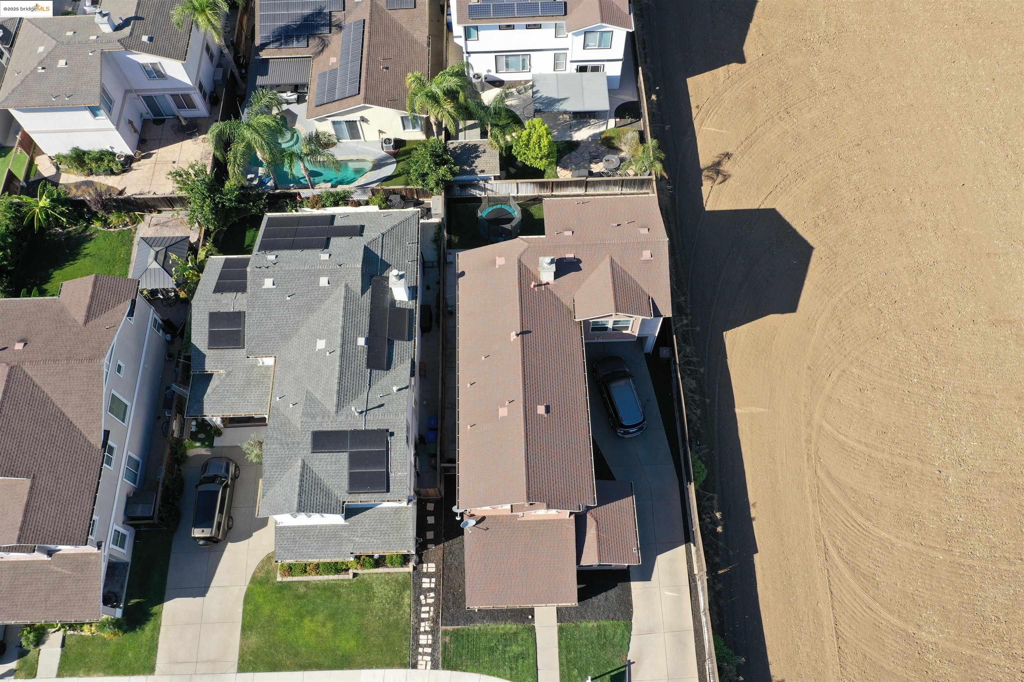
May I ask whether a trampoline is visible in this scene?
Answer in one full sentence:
Yes, you can see a trampoline in this photo.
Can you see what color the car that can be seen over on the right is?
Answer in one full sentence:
The car that can be seen over on the right is black.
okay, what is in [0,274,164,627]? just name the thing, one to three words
house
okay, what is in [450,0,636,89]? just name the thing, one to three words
house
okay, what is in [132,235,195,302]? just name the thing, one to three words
gazebo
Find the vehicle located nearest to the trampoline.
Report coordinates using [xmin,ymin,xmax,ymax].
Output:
[595,358,646,438]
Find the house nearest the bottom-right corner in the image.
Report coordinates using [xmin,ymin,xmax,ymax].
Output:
[455,194,672,612]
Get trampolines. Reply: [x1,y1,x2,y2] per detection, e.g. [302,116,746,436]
[480,191,520,242]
